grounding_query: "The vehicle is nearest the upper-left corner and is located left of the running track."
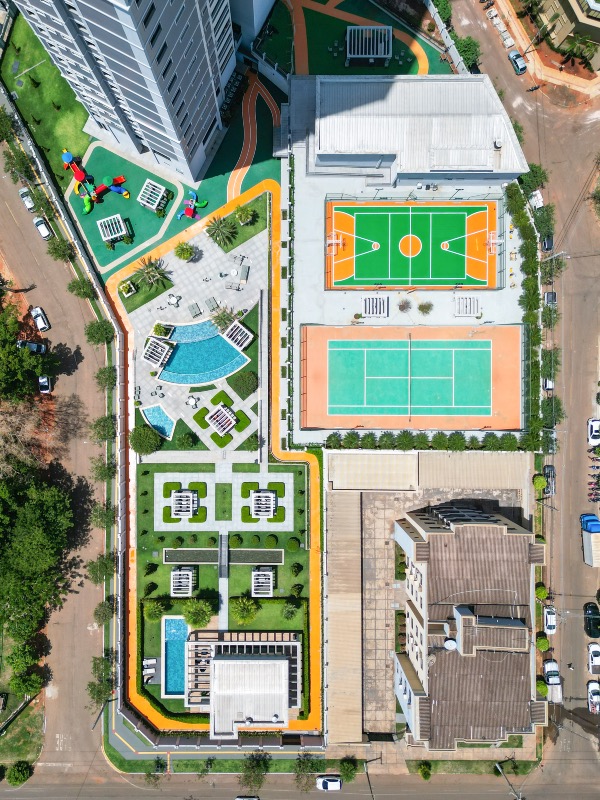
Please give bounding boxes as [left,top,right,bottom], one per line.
[17,187,38,215]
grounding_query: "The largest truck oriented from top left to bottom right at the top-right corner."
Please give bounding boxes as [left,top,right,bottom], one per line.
[483,7,519,52]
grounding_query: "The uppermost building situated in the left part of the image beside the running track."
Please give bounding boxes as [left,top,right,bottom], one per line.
[12,0,238,181]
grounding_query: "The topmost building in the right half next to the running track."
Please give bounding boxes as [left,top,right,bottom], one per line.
[316,75,529,184]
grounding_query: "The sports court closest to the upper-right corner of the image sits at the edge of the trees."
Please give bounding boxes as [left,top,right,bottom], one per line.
[326,201,497,290]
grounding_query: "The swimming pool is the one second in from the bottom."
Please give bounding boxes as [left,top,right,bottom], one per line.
[141,403,176,440]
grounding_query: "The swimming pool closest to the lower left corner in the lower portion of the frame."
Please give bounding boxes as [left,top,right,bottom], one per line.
[162,616,191,698]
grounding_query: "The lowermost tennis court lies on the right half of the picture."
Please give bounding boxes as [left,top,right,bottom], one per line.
[302,326,522,428]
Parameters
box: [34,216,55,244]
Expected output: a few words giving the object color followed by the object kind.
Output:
white car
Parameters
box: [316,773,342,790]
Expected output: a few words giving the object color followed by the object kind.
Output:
white car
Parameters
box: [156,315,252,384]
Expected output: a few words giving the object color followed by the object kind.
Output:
blue swimming pool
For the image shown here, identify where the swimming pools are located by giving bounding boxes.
[156,315,252,384]
[162,616,191,698]
[141,403,176,440]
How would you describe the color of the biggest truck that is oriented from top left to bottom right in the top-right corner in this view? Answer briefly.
white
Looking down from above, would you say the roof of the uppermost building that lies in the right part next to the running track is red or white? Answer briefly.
white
